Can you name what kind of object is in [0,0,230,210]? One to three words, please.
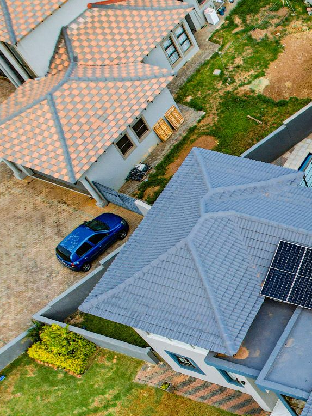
house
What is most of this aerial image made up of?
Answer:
buildings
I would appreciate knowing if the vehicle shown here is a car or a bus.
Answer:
car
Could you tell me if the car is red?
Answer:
No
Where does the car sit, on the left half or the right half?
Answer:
left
